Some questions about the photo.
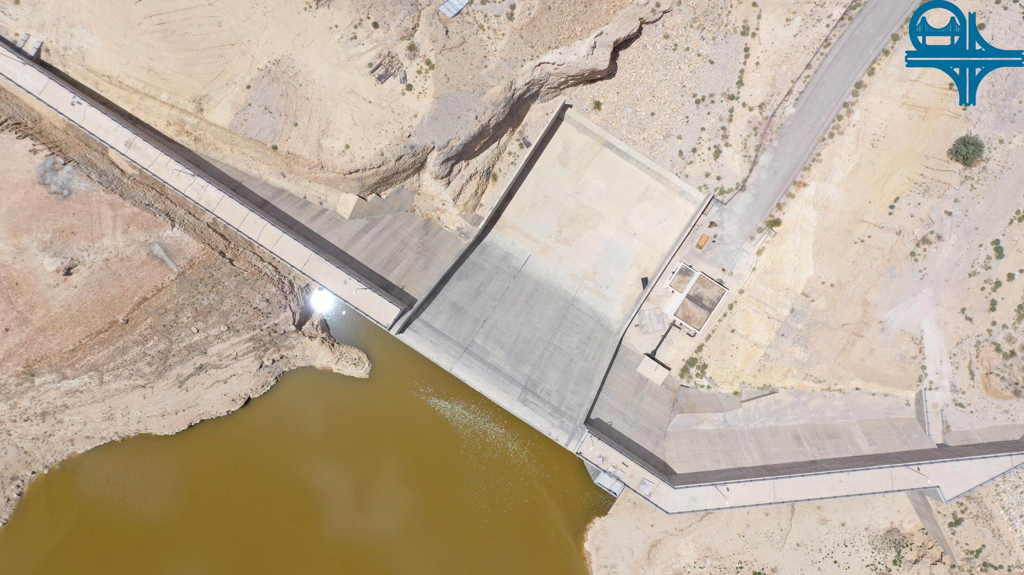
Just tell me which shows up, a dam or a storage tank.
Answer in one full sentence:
There is a dam in the scene.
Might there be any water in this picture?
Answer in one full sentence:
Yes, there is water in the image.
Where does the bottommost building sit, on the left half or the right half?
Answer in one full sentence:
The bottommost building appears in the right half of the scene.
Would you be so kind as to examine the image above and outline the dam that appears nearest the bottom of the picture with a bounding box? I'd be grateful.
[572,421,1024,514]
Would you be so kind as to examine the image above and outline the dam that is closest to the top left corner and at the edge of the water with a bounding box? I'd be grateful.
[0,36,412,331]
